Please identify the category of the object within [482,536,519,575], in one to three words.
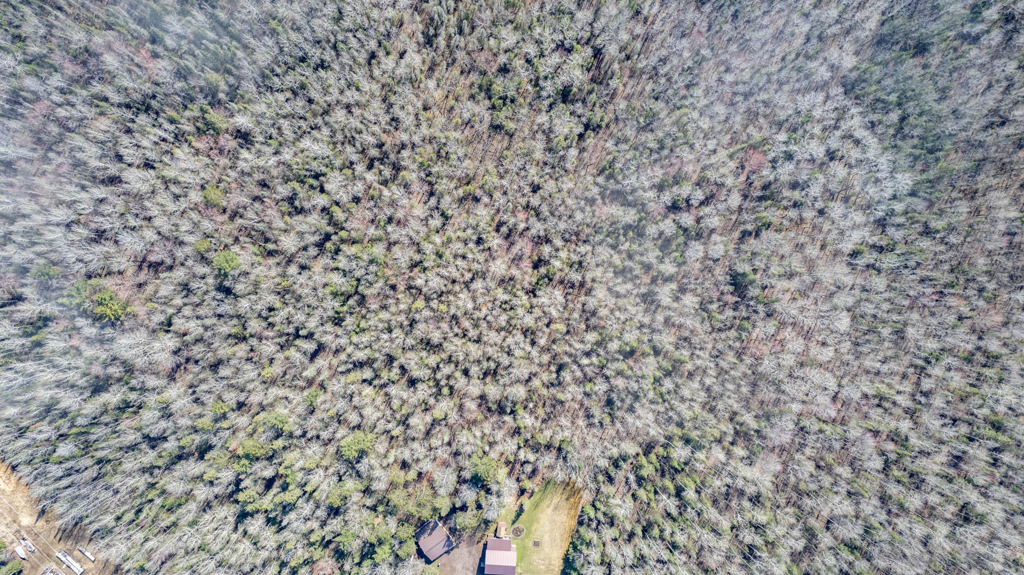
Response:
house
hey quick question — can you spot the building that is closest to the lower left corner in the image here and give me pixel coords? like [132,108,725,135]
[416,519,455,559]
